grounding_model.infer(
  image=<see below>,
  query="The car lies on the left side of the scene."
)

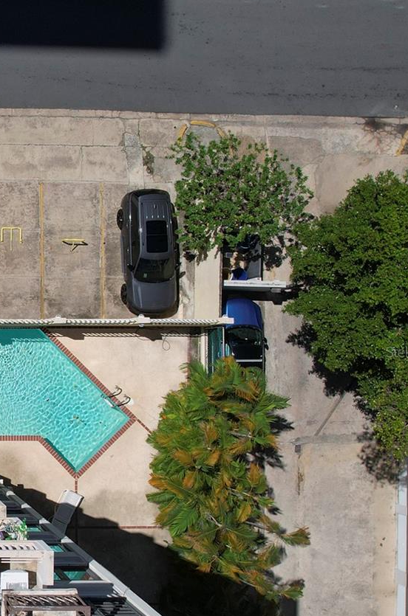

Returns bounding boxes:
[116,189,184,317]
